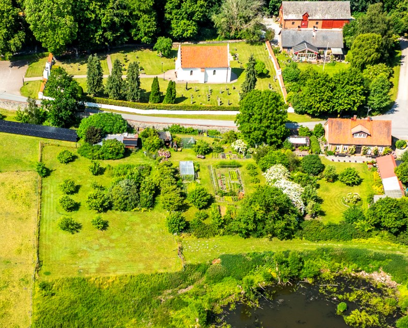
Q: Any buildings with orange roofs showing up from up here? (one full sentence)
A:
Yes, the frame does contain a building with an orange roof.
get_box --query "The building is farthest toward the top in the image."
[279,1,352,29]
